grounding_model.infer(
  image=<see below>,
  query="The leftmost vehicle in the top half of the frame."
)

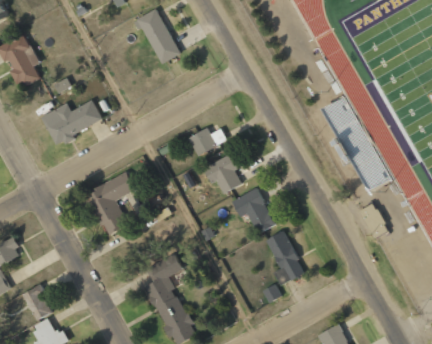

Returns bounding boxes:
[36,102,54,114]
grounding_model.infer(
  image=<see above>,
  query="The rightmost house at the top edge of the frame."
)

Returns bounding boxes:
[137,10,180,62]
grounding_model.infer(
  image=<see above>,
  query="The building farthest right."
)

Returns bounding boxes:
[359,204,390,242]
